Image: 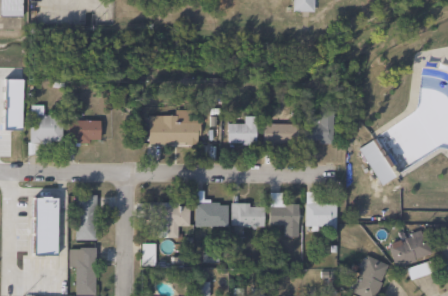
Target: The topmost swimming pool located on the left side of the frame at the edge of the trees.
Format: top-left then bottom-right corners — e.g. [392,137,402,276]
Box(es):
[160,239,176,256]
